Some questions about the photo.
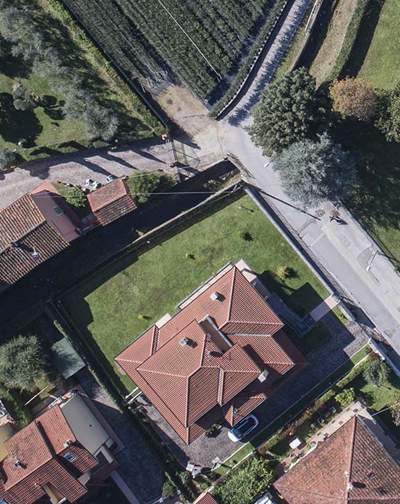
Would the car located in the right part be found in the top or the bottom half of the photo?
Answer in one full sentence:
The bottom half of the photo is where the car located in the right part is.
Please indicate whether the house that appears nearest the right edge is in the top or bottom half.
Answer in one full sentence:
The house that appears nearest the right edge is in the bottom half of the image.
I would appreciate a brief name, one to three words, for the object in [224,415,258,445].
car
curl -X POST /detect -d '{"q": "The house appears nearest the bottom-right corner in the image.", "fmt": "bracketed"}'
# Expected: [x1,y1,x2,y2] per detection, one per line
[273,399,400,504]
